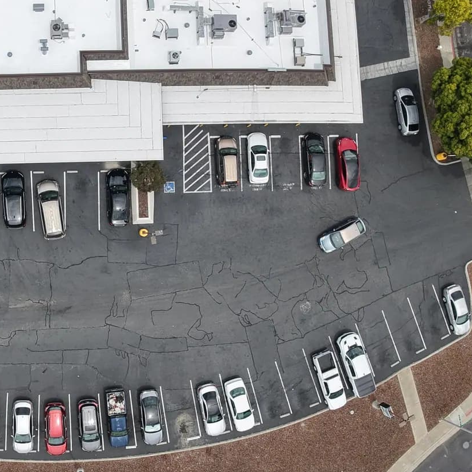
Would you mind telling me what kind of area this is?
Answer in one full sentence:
What you see here is a parking lot.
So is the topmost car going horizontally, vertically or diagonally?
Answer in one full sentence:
What the image shows is the topmost car lying vertically.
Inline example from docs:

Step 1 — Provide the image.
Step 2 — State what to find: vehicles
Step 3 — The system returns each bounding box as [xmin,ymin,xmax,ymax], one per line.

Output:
[43,400,67,455]
[437,281,472,337]
[224,376,254,432]
[36,179,64,241]
[77,398,102,453]
[300,133,327,188]
[312,348,345,410]
[105,387,130,447]
[333,137,361,193]
[196,380,226,437]
[9,398,35,453]
[391,87,419,138]
[335,331,378,400]
[244,133,270,186]
[215,137,241,188]
[315,215,368,254]
[105,169,131,226]
[139,388,164,445]
[0,170,26,229]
